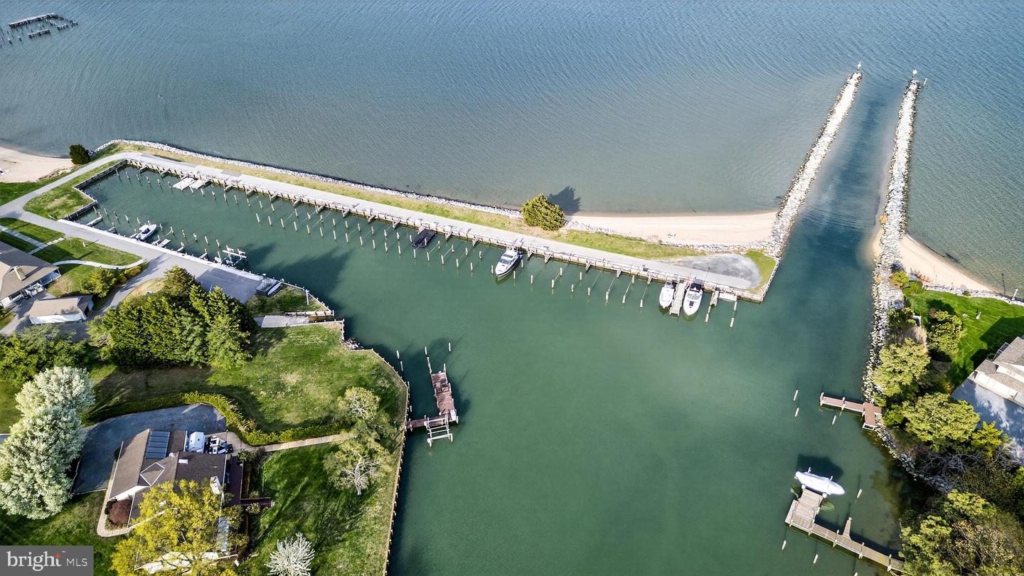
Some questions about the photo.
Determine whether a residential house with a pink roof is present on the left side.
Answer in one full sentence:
No, no residential house with a pink roof can be made out on the left side.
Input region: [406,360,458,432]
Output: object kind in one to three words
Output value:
pier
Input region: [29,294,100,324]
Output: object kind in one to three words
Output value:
building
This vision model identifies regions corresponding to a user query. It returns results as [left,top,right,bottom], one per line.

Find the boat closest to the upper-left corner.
[135,224,157,242]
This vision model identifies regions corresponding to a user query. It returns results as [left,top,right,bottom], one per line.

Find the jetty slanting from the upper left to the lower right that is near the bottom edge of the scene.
[785,484,902,575]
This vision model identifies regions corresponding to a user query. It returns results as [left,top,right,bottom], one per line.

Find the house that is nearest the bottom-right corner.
[964,337,1024,418]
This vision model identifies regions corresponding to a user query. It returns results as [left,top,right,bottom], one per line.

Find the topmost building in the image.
[0,251,60,305]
